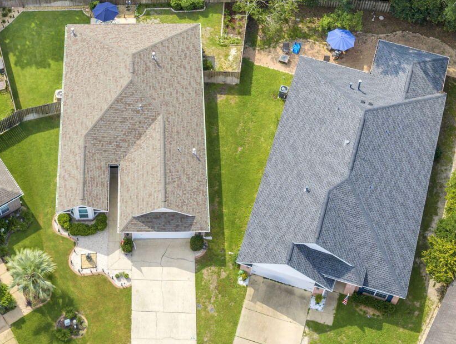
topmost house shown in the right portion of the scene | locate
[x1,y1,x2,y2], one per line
[237,39,450,302]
